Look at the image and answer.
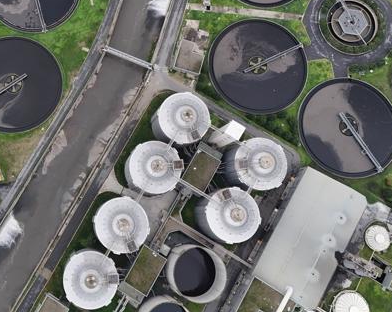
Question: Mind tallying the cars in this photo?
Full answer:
There are no cars in this view.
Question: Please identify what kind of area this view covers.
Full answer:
It's an industrial area.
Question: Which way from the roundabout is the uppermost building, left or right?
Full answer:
To the left of the roundabout is where the uppermost building appears.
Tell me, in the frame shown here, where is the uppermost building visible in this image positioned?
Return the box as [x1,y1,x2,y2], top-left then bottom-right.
[173,39,204,76]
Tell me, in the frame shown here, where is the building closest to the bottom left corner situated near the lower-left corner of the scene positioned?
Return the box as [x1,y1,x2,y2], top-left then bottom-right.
[36,292,69,312]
